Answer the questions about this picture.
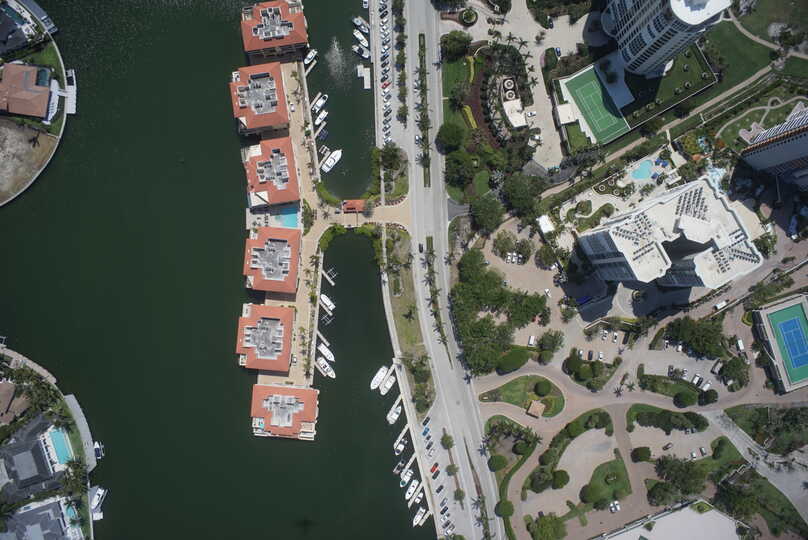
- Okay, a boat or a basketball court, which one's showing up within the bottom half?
boat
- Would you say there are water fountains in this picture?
Yes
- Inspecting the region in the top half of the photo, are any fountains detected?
Yes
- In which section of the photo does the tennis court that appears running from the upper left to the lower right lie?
top right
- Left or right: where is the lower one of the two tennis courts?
right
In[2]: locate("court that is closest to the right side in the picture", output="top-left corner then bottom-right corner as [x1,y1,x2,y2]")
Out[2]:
[768,304,808,383]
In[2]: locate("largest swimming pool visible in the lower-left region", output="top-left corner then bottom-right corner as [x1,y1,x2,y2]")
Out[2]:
[48,429,72,466]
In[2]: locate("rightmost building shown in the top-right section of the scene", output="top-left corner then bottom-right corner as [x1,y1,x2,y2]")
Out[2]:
[741,98,808,179]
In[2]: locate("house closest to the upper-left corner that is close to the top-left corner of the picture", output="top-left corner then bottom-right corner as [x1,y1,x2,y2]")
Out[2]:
[0,3,32,58]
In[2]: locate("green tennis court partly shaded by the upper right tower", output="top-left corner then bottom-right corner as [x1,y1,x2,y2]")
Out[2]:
[566,67,630,143]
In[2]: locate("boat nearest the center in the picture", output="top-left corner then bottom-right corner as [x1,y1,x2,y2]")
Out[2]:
[322,295,336,311]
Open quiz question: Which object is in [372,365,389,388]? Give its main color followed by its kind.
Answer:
white boat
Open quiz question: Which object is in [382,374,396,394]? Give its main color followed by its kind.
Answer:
white boat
